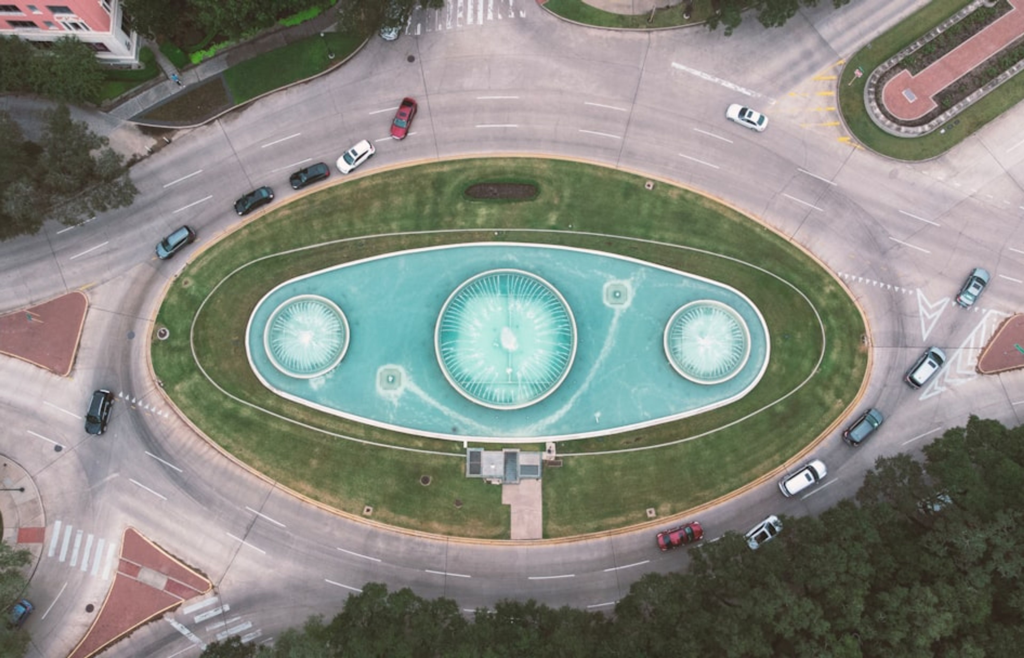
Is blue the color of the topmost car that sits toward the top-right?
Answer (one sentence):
No, the topmost car that sits toward the top-right is white.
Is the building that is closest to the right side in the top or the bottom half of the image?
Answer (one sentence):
Seen from above, the building that is closest to the right side lies in the bottom half of the view.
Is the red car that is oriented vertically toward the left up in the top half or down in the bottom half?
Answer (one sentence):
The red car that is oriented vertically toward the left is in the top half of the image.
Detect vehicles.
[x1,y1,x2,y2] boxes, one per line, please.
[234,185,274,216]
[393,96,417,141]
[957,269,988,310]
[657,523,703,550]
[779,460,825,498]
[290,161,329,191]
[86,391,116,435]
[743,515,783,553]
[155,226,197,259]
[727,107,768,131]
[842,408,884,448]
[382,0,405,41]
[336,139,375,175]
[905,347,944,392]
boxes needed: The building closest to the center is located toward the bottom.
[467,448,542,484]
